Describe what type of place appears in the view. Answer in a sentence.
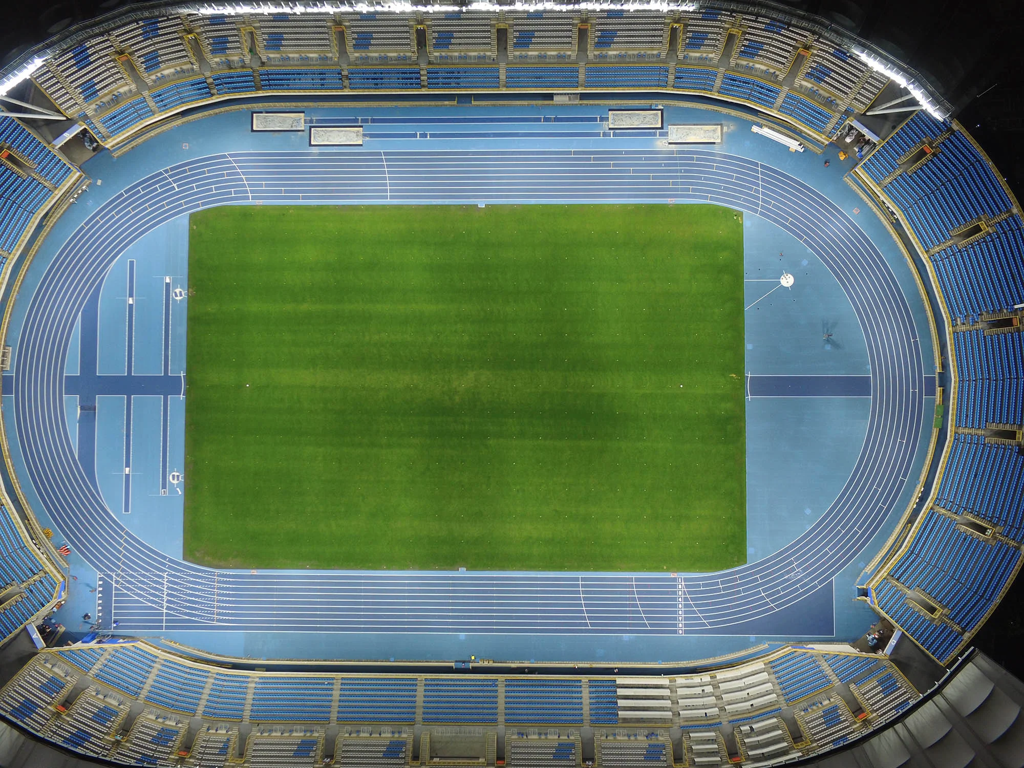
It's a sports ground.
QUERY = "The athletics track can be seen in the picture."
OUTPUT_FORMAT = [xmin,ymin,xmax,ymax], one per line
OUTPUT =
[3,106,935,662]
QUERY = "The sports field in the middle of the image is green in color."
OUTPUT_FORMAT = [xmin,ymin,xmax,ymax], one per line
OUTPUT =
[183,204,747,572]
